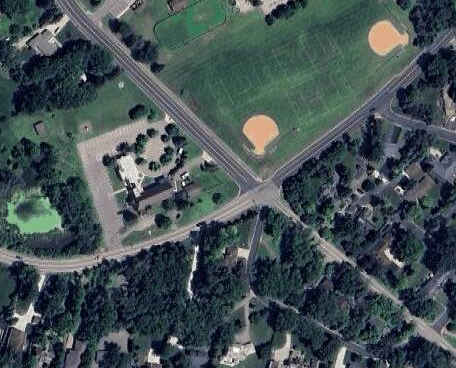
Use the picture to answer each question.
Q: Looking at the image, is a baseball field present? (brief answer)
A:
Yes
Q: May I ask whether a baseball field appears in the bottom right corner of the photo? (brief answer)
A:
No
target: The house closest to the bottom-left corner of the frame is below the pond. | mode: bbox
[7,324,24,353]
